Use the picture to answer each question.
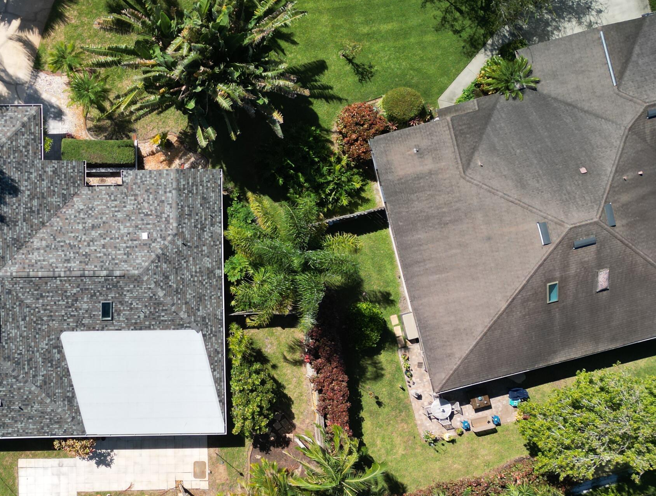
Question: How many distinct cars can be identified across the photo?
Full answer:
The picture shows no cars.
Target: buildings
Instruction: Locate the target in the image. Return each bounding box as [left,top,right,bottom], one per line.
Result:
[0,103,229,440]
[367,9,656,396]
